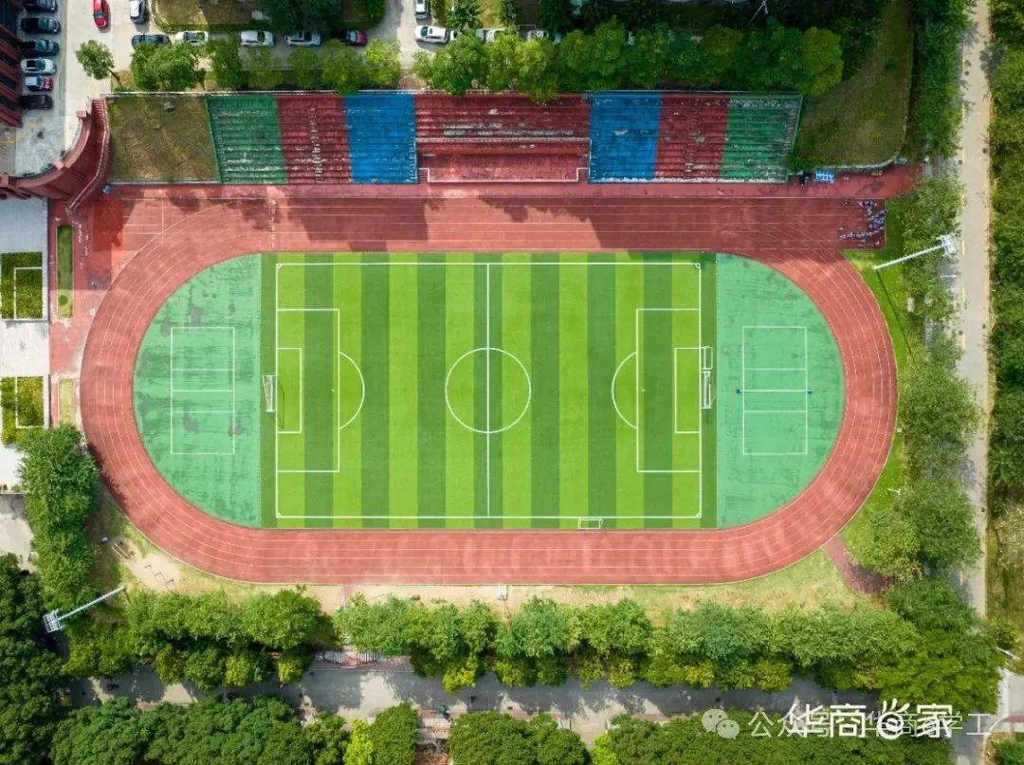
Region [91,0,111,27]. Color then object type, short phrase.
red car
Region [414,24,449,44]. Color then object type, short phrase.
white car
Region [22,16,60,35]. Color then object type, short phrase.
black car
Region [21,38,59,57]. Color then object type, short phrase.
black car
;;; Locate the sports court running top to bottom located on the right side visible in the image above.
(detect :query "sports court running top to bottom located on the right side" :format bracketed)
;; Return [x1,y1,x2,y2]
[717,253,843,527]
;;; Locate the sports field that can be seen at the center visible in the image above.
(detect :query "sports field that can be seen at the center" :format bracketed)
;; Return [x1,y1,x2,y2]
[261,252,716,528]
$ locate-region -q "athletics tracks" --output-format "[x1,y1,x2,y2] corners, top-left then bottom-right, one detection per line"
[80,197,898,583]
